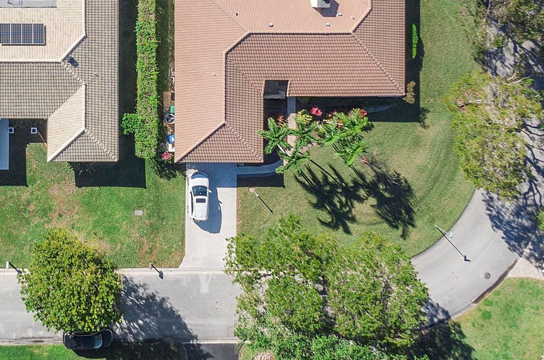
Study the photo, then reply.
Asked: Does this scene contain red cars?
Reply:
No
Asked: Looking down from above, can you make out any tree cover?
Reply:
Yes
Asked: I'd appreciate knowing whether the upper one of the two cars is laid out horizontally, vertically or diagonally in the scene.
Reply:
vertically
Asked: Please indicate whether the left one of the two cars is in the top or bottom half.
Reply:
bottom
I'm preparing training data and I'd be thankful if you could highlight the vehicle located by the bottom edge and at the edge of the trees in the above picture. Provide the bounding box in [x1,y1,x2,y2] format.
[62,330,114,359]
